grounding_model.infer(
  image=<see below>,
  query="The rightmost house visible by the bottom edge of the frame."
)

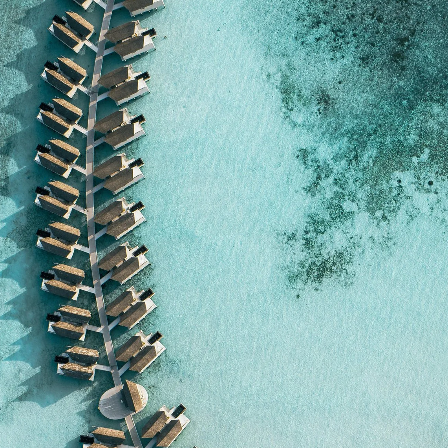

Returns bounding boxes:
[143,406,194,448]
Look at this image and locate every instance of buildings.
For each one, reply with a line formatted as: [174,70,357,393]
[34,220,84,264]
[103,20,158,66]
[46,10,98,59]
[35,96,86,144]
[93,108,150,153]
[97,63,153,109]
[32,178,83,224]
[84,426,127,448]
[32,137,84,182]
[143,406,194,448]
[98,242,153,287]
[91,152,147,198]
[93,196,150,242]
[115,331,169,375]
[38,55,91,104]
[122,0,168,22]
[38,262,87,304]
[105,286,161,332]
[56,345,102,382]
[47,304,93,344]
